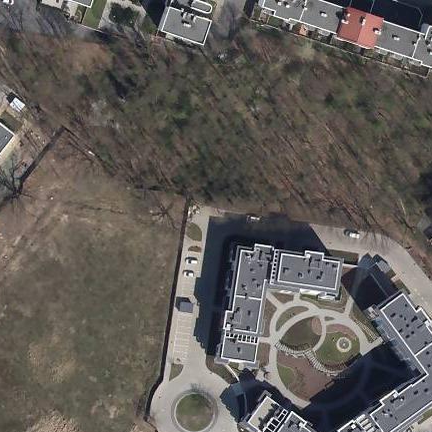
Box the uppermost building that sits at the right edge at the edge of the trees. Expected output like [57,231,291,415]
[263,0,432,68]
